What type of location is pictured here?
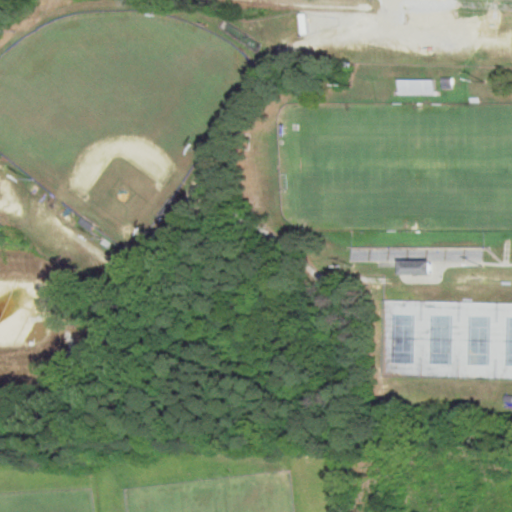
sports ground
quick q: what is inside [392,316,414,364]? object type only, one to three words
tennis court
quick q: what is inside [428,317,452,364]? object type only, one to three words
tennis court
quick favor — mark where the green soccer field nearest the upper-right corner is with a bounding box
[279,104,512,230]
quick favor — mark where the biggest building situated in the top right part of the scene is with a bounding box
[396,78,436,94]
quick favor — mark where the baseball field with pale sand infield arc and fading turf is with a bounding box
[0,10,247,250]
